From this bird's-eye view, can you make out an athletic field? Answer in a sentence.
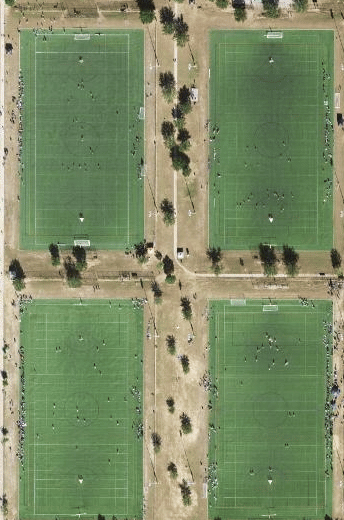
Yes, the photo shows an athletic field.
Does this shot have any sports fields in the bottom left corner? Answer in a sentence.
Yes, a sports field shows up in the bottom left corner.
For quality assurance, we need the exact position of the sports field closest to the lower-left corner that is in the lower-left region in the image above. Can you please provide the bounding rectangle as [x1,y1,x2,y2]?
[19,298,144,520]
